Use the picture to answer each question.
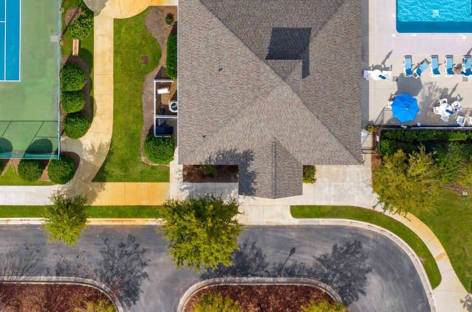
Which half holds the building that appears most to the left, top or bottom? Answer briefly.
top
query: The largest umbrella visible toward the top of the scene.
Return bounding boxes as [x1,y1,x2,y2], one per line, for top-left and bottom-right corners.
[392,93,421,123]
